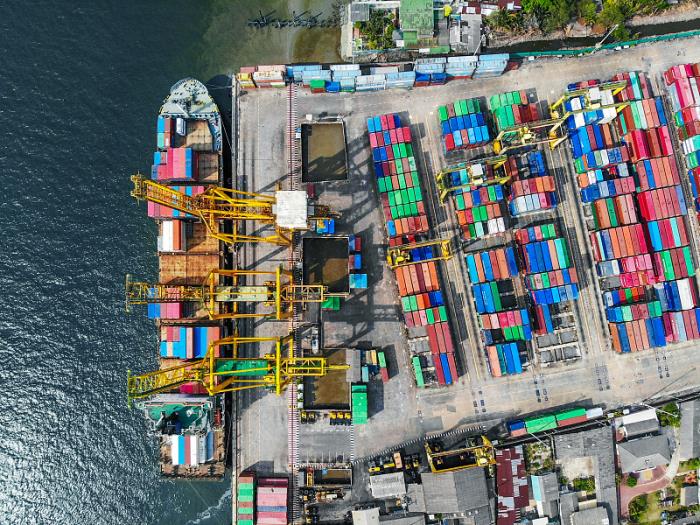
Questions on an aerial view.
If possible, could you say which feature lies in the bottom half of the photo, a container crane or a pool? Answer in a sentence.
Visible in the bottom half of the photo is a container crane.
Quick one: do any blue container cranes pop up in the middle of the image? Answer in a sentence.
No, no blue container crane is visible in the middle of the image.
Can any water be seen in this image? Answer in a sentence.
Yes, water can be seen from above here.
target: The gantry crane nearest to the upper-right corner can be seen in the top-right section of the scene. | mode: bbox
[546,80,632,131]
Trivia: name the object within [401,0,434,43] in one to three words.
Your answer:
building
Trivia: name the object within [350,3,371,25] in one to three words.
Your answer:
house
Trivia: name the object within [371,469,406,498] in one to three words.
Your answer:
building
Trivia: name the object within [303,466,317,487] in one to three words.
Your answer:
vehicle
